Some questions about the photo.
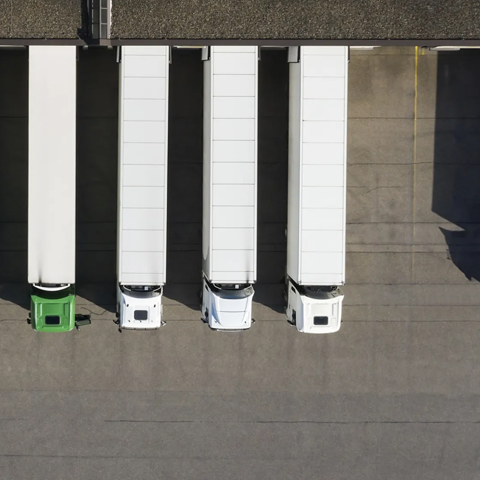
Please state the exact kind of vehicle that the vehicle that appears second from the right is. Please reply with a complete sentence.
In the photo, the vehicle that appears second from the right shows up as a truck.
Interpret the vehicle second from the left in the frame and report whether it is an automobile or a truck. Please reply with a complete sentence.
I'd identify the vehicle second from the left as a truck.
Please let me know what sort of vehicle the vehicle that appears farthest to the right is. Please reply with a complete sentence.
I'd say the vehicle that appears farthest to the right is a truck.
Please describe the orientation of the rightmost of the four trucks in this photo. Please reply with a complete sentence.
I'd say the rightmost of the four trucks is aligned from top to bottom in the picture.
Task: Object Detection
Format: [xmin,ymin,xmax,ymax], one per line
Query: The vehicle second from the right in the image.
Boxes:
[197,45,261,333]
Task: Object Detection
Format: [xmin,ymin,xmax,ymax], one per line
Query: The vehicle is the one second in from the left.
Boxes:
[112,45,172,338]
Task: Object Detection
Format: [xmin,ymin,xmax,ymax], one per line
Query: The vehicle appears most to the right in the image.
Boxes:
[281,45,350,334]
